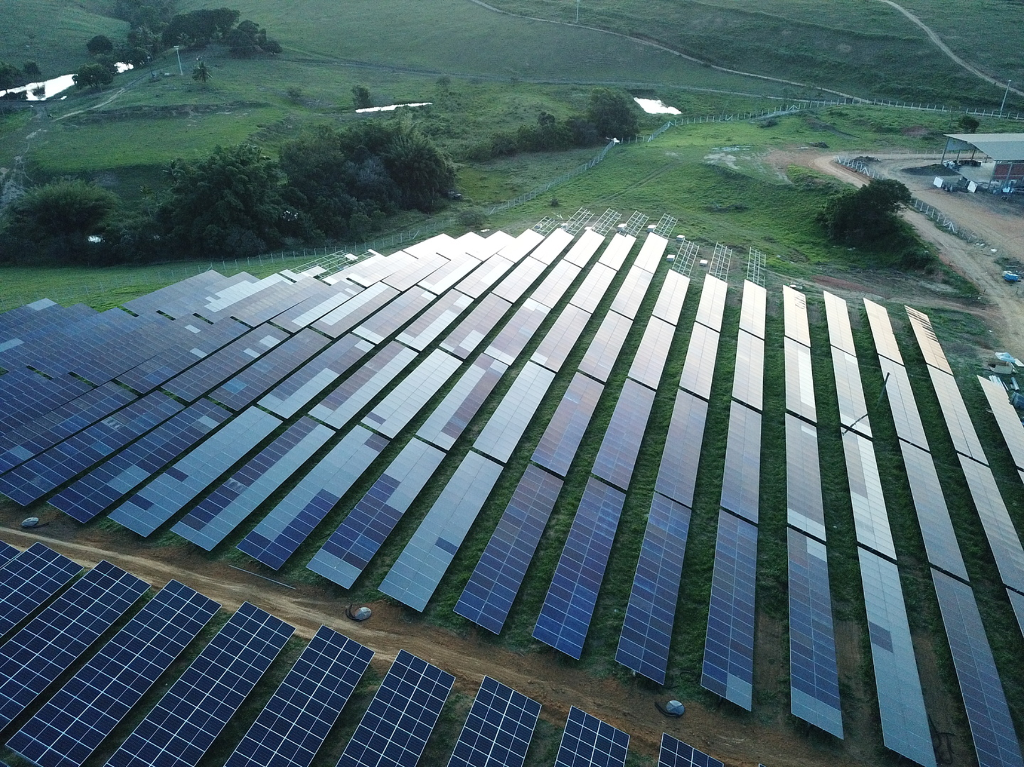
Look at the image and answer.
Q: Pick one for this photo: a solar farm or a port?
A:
solar farm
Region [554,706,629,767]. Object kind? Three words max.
solar array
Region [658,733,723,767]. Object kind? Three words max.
solar array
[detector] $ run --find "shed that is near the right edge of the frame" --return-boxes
[938,137,1024,189]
